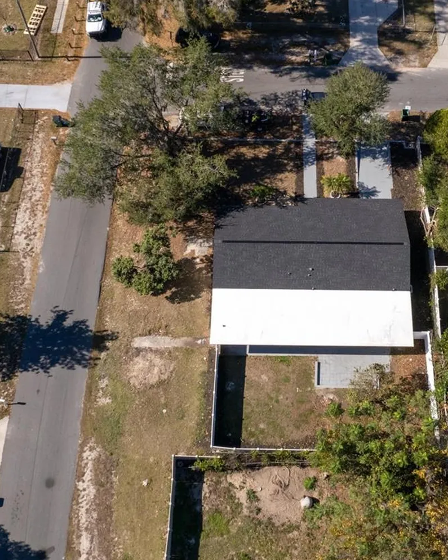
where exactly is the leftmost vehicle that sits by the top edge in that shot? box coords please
[82,0,109,38]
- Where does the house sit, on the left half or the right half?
right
